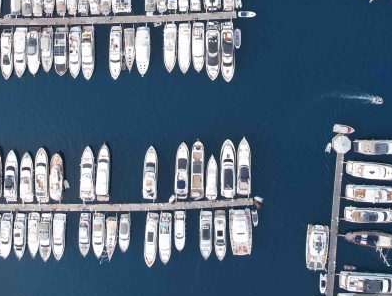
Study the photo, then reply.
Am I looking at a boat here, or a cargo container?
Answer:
boat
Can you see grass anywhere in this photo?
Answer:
No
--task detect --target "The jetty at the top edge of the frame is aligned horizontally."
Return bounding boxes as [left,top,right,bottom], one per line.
[0,11,236,25]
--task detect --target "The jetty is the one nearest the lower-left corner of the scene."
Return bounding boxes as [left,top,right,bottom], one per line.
[0,198,254,212]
